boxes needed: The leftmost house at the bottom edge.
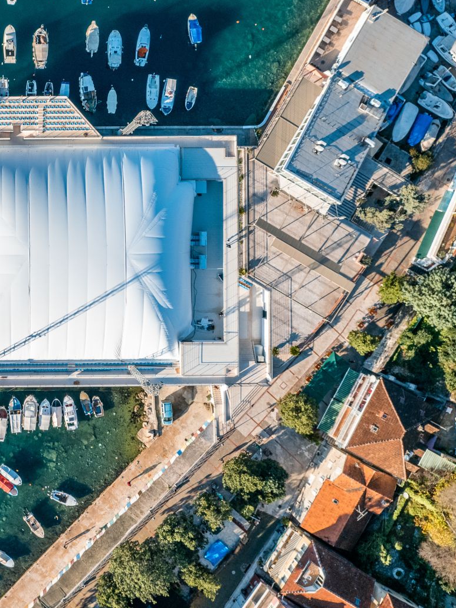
[232,574,283,608]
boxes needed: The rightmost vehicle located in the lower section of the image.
[162,401,175,426]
